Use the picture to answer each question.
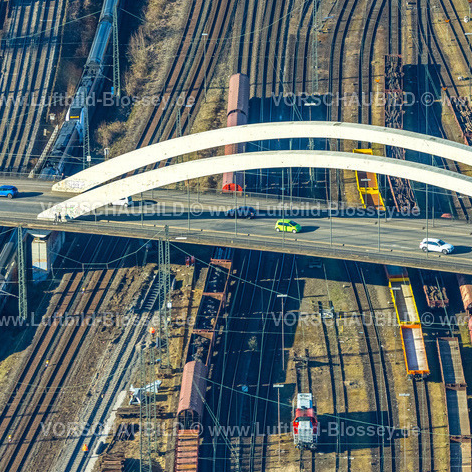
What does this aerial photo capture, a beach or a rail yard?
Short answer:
rail yard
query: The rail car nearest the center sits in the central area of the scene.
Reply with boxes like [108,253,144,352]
[208,247,234,268]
